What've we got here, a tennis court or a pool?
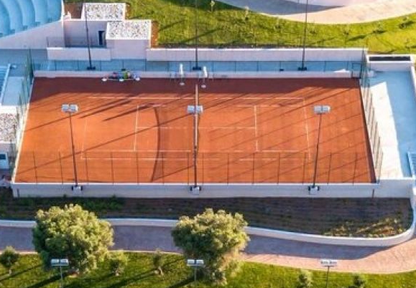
tennis court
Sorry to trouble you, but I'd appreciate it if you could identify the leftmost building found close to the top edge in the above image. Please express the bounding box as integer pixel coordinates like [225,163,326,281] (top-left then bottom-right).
[81,3,128,44]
